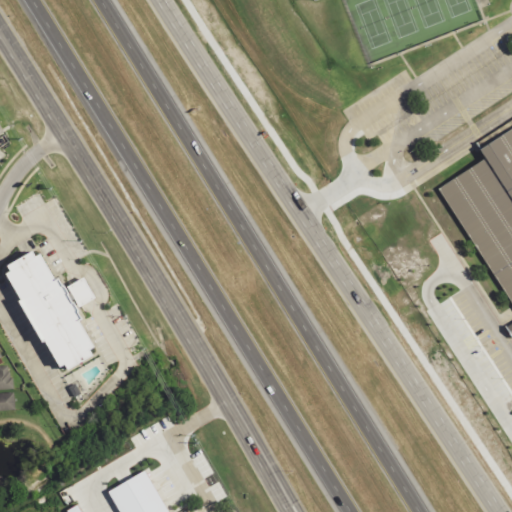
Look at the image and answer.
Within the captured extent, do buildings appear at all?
Yes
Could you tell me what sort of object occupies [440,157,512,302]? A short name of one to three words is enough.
building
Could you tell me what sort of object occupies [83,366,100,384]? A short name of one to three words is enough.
swimming pool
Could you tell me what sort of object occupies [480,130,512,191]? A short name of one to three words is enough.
building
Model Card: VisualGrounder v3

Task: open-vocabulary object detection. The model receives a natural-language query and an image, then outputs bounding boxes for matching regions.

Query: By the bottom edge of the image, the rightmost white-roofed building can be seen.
[109,470,171,512]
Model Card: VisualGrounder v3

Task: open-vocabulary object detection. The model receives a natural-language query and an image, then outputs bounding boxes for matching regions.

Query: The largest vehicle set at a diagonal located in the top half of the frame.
[292,192,306,210]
